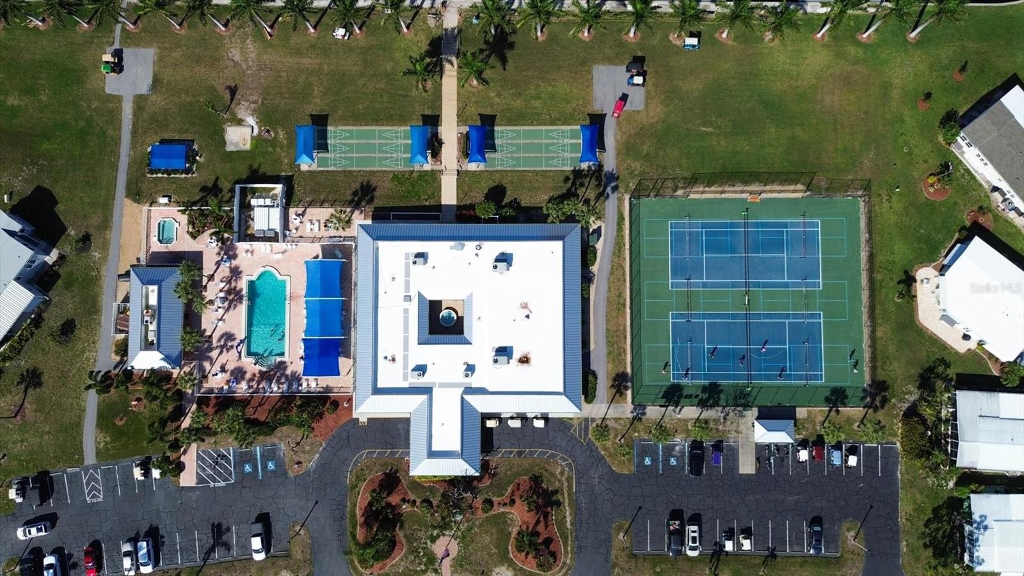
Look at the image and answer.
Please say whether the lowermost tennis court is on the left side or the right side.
right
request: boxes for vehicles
[624,62,643,73]
[689,440,705,477]
[843,450,857,468]
[42,553,61,576]
[667,518,683,556]
[136,537,156,572]
[250,523,267,559]
[808,519,824,552]
[680,38,699,49]
[738,533,751,551]
[135,461,150,480]
[686,522,701,555]
[16,553,36,576]
[335,28,351,42]
[103,54,121,65]
[611,97,625,118]
[9,482,25,501]
[151,464,165,479]
[121,540,138,574]
[531,417,546,427]
[17,520,53,540]
[33,470,55,507]
[809,443,823,464]
[722,533,733,552]
[827,445,841,465]
[794,445,807,463]
[83,544,101,575]
[484,417,500,427]
[627,76,645,87]
[506,417,522,427]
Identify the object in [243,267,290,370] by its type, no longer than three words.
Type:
swimming pool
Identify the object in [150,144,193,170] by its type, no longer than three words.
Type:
building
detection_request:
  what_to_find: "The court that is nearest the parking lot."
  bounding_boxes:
[630,198,866,406]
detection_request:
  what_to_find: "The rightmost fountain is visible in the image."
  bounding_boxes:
[439,308,457,327]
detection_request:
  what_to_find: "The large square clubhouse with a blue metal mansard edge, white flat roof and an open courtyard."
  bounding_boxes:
[355,223,582,476]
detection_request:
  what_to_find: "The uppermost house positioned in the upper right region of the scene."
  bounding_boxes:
[948,85,1024,227]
